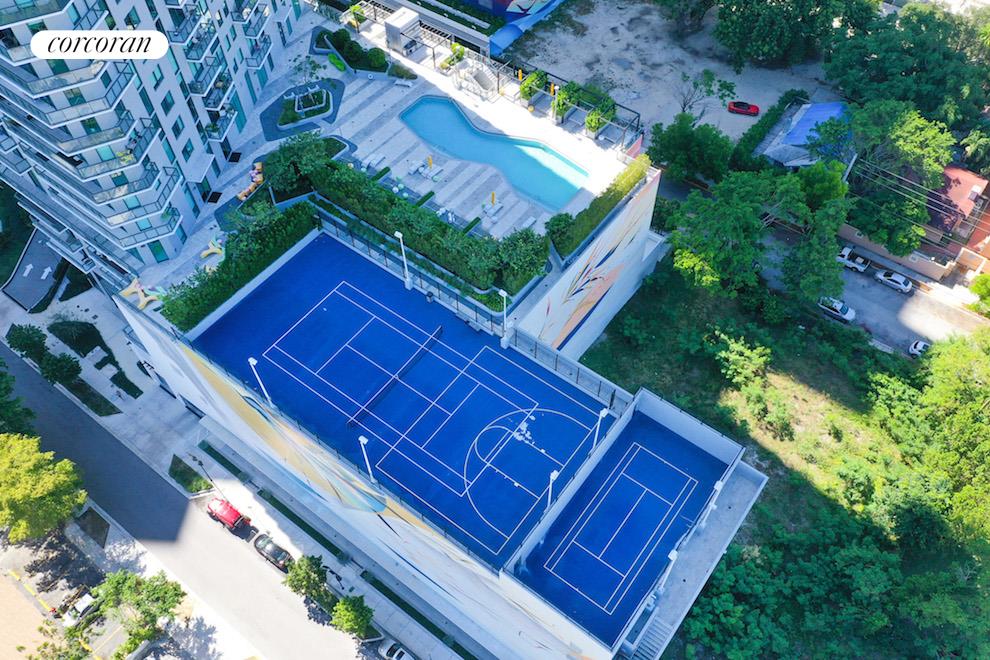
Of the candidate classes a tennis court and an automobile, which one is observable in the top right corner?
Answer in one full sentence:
What appears in the top right corner is an automobile.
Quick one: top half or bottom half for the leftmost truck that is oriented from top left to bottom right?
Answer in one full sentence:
Seen from above, the leftmost truck that is oriented from top left to bottom right lies in the bottom half of the view.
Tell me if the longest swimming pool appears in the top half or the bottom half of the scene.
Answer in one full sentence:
You can find the longest swimming pool in the top half.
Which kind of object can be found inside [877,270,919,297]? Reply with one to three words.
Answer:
car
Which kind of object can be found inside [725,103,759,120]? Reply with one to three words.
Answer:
car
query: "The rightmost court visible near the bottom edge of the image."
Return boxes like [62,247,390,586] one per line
[510,410,729,650]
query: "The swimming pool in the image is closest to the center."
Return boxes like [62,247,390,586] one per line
[396,93,597,215]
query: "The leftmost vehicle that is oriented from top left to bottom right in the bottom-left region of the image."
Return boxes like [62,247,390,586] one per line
[204,498,257,545]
